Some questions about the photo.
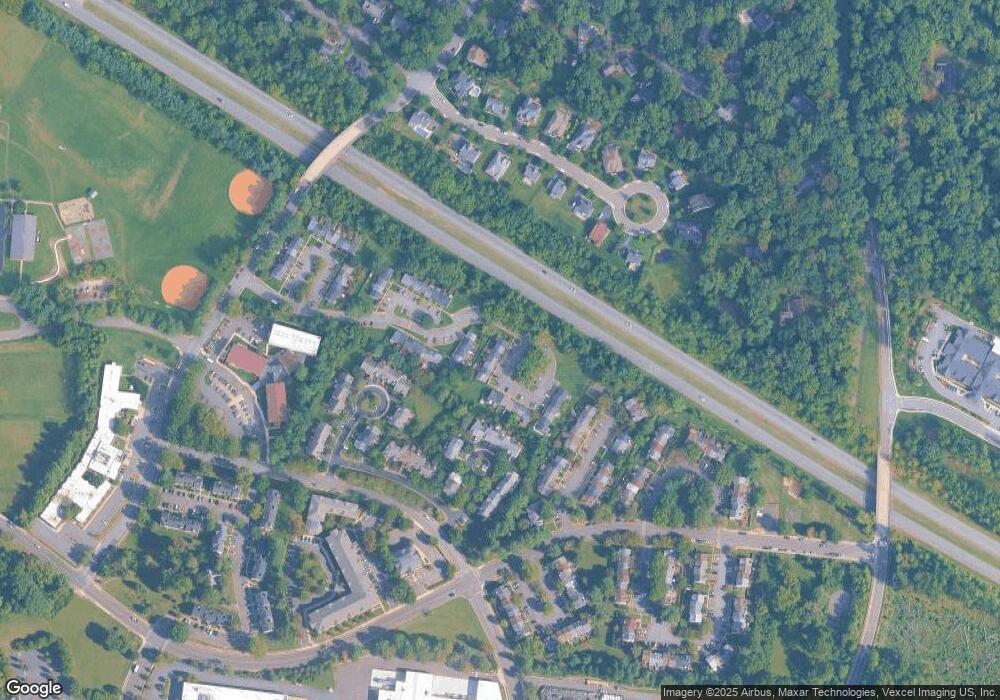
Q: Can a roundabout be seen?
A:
Yes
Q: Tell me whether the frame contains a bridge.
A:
Yes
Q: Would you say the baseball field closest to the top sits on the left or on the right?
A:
left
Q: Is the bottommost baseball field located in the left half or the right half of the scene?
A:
left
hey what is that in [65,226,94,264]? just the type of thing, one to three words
sports court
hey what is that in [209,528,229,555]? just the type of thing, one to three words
building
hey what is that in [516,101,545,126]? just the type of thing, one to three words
house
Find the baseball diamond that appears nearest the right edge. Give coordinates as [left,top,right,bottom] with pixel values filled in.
[229,169,272,215]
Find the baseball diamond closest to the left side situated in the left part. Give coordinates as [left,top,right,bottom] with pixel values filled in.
[162,266,208,310]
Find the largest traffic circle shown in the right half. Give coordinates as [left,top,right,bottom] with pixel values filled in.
[613,180,668,234]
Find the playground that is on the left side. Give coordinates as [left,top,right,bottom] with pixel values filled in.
[58,197,94,226]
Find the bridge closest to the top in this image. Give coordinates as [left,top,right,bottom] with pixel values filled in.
[295,113,375,192]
